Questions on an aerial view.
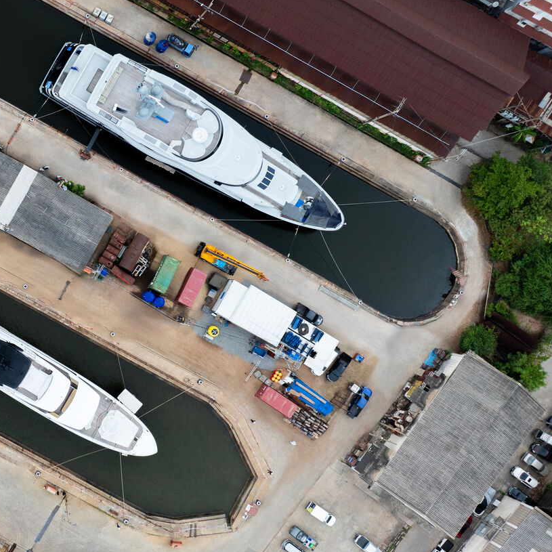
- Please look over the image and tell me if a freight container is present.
Yes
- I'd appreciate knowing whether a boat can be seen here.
Yes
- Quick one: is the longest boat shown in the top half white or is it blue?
white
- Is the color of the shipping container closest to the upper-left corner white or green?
green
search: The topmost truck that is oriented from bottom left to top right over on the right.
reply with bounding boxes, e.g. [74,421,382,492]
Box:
[325,351,354,382]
